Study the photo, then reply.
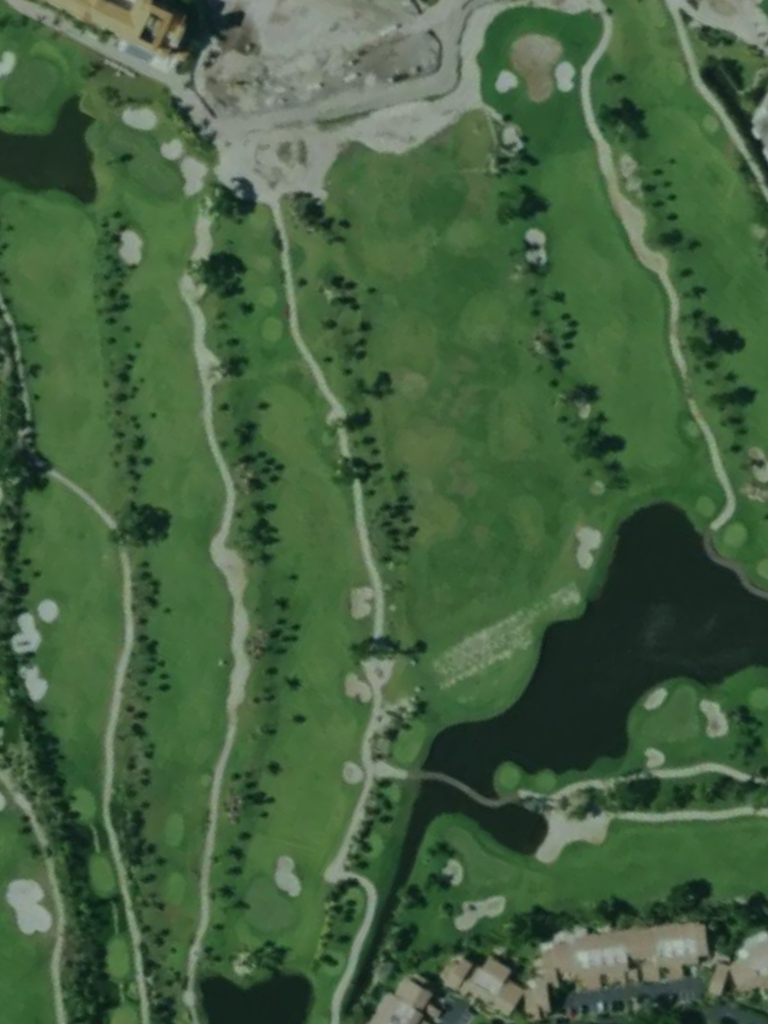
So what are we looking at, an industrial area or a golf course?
golf course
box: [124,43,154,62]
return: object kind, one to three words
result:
swimming pool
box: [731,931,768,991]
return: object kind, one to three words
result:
house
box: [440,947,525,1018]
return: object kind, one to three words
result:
house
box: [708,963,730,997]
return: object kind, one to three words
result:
building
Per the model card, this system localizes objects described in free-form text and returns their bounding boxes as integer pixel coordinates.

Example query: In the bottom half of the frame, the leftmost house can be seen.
[368,975,443,1024]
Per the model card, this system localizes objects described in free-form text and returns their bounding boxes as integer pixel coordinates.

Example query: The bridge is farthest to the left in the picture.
[408,772,519,806]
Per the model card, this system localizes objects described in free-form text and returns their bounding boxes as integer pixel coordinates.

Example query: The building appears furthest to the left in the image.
[49,0,187,61]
